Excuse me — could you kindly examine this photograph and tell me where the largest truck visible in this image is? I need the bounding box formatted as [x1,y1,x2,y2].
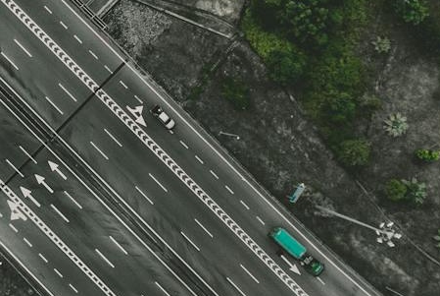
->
[268,225,325,280]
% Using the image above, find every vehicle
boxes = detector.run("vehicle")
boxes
[268,225,325,280]
[150,105,177,130]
